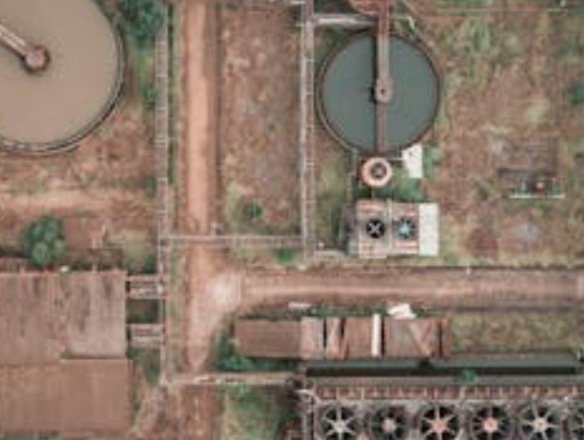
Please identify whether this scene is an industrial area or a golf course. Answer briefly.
industrial area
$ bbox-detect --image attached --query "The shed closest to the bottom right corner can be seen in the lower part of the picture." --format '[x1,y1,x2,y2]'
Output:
[296,314,450,357]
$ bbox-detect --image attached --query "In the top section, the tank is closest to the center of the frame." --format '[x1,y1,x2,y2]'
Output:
[355,156,392,187]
